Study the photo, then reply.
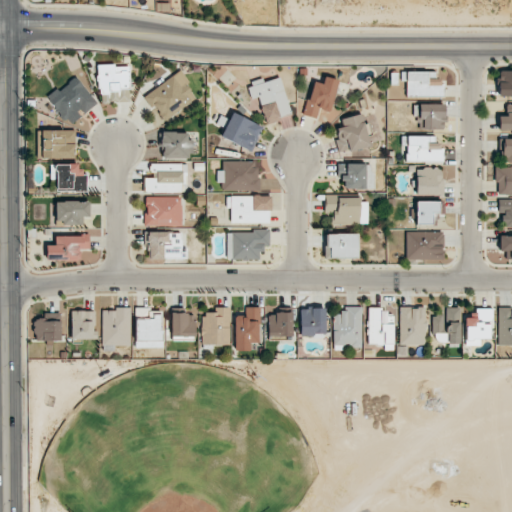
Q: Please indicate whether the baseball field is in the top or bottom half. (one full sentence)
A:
The bottom half of the photo is where the baseball field is.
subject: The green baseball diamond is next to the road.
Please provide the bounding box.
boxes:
[39,364,318,512]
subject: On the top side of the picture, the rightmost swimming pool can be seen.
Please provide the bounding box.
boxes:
[398,174,410,192]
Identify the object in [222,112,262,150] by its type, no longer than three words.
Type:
house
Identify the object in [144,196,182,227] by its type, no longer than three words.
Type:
house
